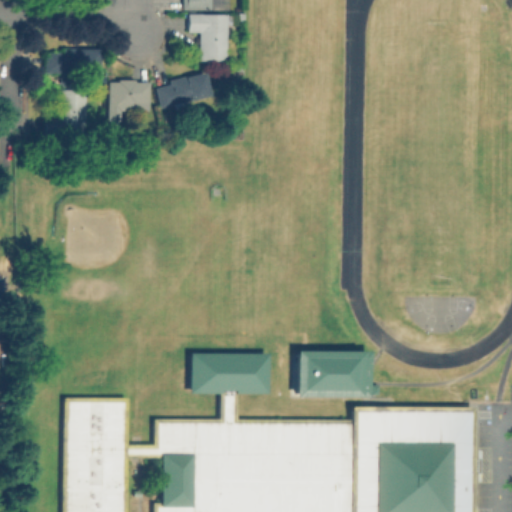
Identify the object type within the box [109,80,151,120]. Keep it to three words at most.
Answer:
house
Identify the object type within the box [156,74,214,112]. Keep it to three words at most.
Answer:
house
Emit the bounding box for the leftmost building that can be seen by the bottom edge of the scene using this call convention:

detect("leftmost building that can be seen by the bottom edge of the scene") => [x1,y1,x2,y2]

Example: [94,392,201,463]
[63,398,127,512]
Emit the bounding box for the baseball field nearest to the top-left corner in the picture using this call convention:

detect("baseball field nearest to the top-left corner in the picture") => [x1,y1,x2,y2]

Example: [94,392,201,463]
[66,206,130,270]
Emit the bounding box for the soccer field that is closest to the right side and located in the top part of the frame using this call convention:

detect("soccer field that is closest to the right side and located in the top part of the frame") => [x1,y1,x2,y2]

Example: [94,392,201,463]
[372,16,507,284]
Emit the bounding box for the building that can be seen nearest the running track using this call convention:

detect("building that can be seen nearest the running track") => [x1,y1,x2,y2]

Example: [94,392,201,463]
[300,352,378,398]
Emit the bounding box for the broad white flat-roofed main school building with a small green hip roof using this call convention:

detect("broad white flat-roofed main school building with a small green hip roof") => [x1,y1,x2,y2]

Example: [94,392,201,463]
[152,420,354,512]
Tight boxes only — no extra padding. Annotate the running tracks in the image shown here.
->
[342,0,512,368]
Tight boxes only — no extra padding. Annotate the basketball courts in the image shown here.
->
[405,297,476,334]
